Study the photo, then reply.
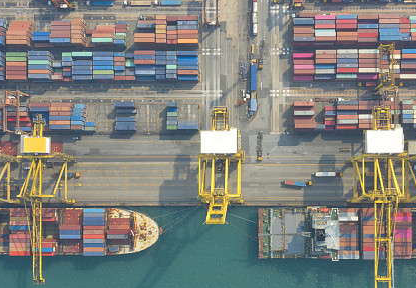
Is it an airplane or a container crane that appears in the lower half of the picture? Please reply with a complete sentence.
What appears in the lower half of the picture is a container crane.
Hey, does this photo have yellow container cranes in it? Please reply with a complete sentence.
Yes, I can see a yellow container crane in this picture.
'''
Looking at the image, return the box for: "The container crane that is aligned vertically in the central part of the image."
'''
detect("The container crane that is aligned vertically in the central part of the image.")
[195,104,249,226]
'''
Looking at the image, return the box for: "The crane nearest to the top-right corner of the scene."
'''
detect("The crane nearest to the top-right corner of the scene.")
[368,44,396,94]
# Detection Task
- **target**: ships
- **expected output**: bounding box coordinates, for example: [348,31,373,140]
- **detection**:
[0,208,163,256]
[254,208,416,287]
